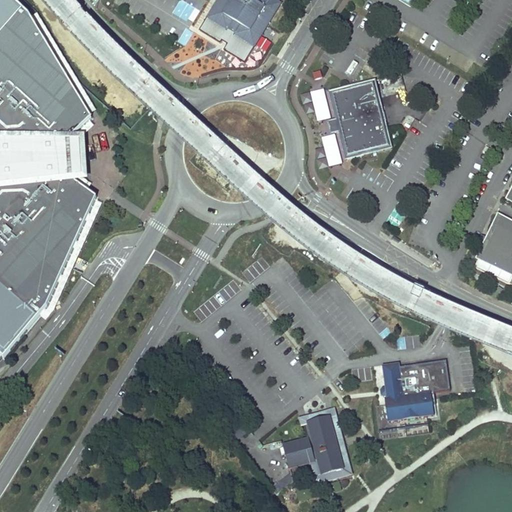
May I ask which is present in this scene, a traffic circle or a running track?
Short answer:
traffic circle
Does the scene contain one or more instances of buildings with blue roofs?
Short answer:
Yes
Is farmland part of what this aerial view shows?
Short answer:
No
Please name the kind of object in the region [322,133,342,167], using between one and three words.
tent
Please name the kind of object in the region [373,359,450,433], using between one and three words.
building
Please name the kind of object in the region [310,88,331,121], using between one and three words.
tent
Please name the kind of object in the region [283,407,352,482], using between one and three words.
house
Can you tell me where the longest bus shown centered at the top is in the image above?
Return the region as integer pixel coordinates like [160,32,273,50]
[233,74,276,98]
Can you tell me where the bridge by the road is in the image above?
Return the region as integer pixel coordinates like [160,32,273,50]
[39,0,512,356]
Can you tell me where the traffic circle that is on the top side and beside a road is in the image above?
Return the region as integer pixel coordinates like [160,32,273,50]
[166,82,304,225]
